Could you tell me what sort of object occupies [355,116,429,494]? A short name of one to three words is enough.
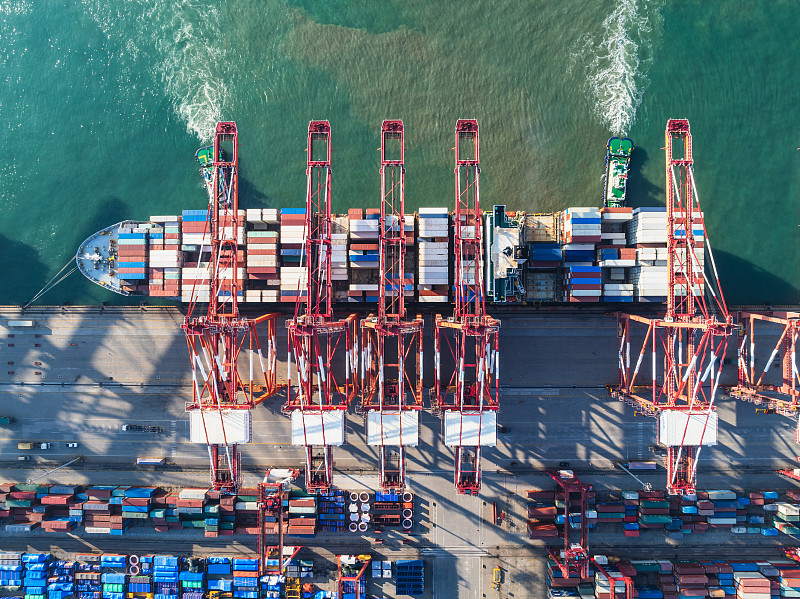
container crane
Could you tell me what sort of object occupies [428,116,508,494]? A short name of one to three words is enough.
container crane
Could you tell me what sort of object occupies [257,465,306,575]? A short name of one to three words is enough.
crane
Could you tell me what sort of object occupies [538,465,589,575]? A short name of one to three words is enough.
crane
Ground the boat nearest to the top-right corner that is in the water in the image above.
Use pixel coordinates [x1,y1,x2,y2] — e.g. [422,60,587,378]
[601,134,634,208]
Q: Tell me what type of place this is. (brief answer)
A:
port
